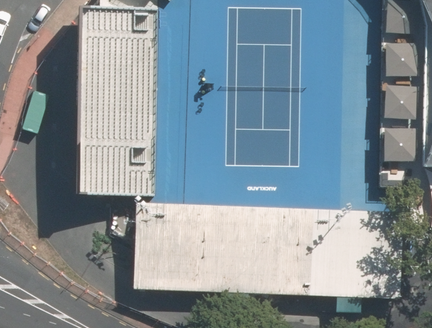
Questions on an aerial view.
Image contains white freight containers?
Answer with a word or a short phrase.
No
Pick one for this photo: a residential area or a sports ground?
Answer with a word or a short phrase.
sports ground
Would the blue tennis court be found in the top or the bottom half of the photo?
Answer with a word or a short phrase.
top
